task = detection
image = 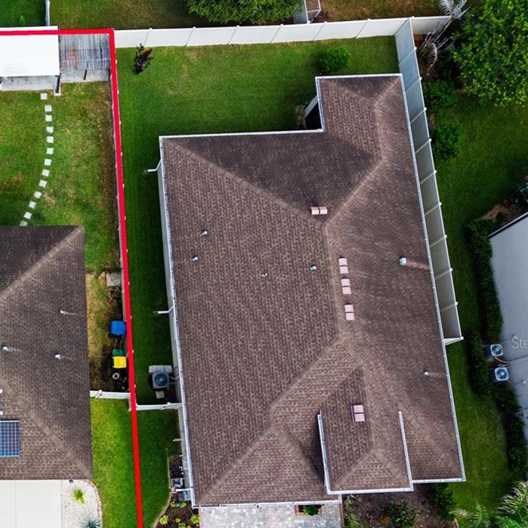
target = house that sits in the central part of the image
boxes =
[148,72,468,510]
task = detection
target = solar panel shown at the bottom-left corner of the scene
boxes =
[0,422,19,456]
